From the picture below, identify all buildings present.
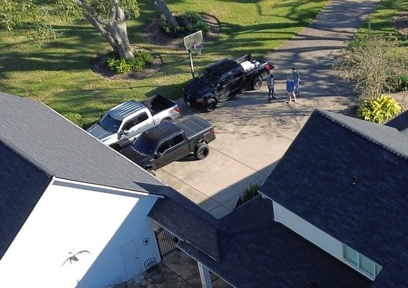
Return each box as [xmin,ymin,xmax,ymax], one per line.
[174,109,408,288]
[0,94,170,288]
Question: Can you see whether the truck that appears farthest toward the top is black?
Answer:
Yes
